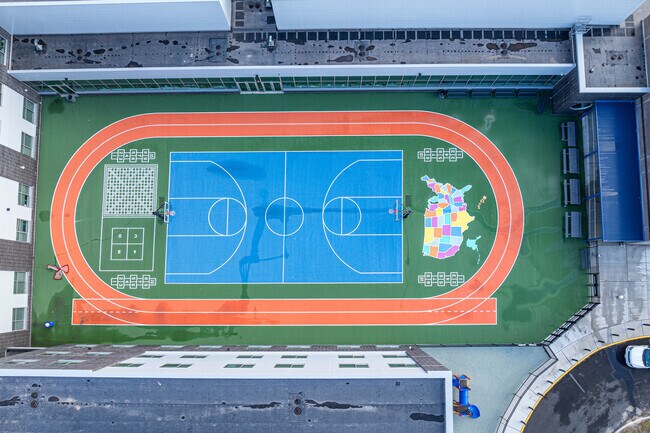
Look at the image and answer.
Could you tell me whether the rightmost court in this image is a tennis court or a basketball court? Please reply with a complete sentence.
It turns out the rightmost court is a basketball court.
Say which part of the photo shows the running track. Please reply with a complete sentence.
The running track sits in the center section of the image.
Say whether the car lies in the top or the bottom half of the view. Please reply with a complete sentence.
You can find the car in the bottom half.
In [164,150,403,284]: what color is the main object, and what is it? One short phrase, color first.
blue basketball court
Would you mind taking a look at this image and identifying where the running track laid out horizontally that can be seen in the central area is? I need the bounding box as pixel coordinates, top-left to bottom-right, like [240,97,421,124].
[50,110,524,325]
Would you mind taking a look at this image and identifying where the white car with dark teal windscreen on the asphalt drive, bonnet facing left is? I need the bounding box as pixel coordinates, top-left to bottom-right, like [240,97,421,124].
[623,345,650,370]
